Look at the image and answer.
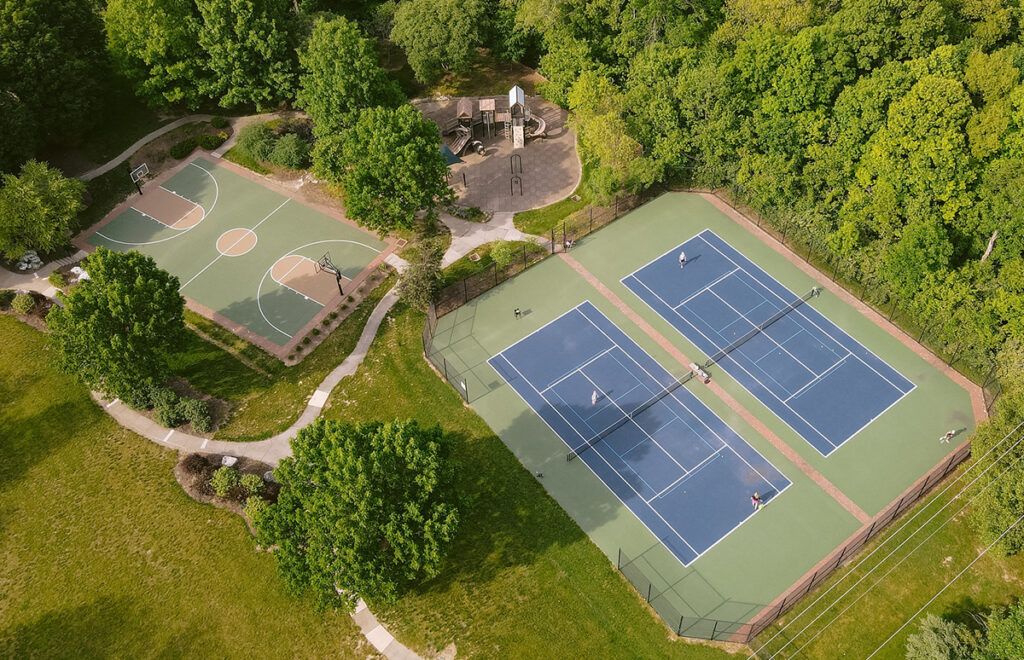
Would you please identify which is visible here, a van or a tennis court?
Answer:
tennis court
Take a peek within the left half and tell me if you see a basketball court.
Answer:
Yes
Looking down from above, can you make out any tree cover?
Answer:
Yes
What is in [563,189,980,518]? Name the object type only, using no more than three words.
tennis court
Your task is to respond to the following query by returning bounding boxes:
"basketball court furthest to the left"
[73,149,397,357]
